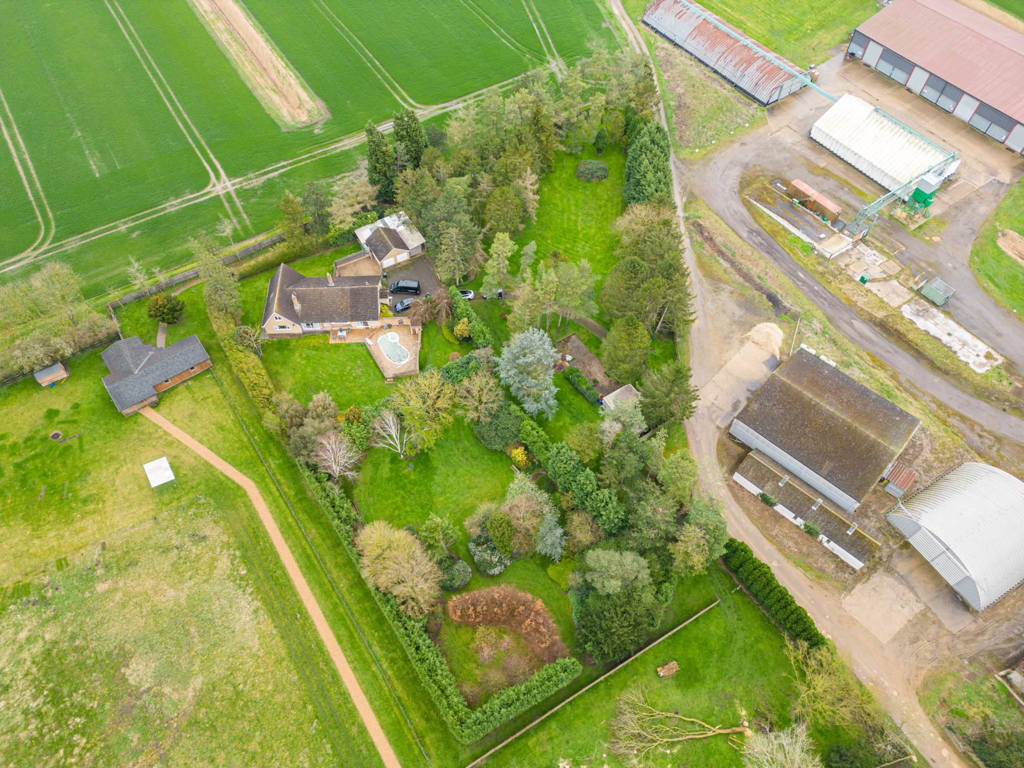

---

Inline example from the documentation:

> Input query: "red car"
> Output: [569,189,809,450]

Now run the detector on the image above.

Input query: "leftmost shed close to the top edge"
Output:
[642,0,817,105]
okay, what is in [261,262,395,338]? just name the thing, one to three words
house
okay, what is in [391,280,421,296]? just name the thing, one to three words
vehicle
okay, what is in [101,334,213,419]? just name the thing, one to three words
building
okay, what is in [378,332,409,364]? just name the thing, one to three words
swimming pool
